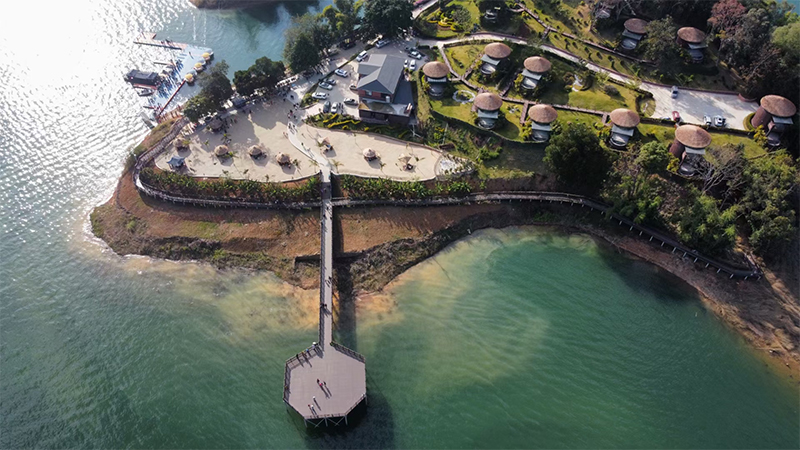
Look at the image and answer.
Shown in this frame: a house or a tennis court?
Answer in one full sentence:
Of the two, only a house appears.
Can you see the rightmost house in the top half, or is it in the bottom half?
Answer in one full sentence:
Seen from above, the rightmost house lies in the top half of the view.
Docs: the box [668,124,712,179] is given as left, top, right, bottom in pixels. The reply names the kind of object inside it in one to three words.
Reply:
house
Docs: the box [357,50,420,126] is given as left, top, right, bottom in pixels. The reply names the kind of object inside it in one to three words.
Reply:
house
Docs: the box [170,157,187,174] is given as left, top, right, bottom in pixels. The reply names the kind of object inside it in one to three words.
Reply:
gazebo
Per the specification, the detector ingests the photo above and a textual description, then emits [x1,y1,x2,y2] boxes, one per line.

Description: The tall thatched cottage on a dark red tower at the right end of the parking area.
[750,95,799,145]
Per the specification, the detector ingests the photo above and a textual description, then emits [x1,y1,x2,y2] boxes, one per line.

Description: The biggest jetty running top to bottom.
[284,172,367,424]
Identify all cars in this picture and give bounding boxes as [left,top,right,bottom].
[713,114,724,127]
[672,110,682,122]
[404,45,419,52]
[408,51,422,59]
[327,45,341,55]
[409,59,416,70]
[334,69,348,77]
[347,83,359,91]
[702,115,712,126]
[322,101,332,112]
[403,59,409,68]
[330,102,340,112]
[355,51,369,60]
[322,77,338,85]
[318,82,333,90]
[670,84,679,98]
[341,38,355,48]
[657,115,675,123]
[312,90,327,99]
